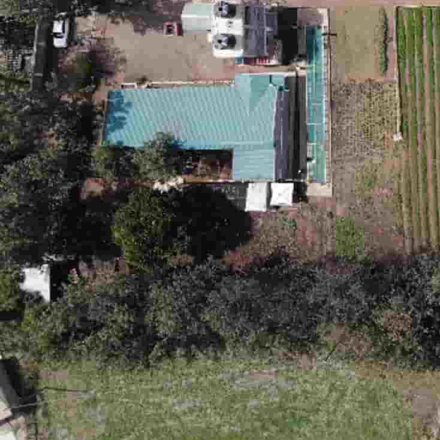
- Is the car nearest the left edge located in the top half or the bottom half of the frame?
top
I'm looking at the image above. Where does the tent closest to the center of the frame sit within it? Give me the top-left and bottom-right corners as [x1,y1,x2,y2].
[246,181,274,211]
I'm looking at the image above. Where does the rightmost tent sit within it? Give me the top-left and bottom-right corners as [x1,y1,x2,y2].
[270,181,298,207]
